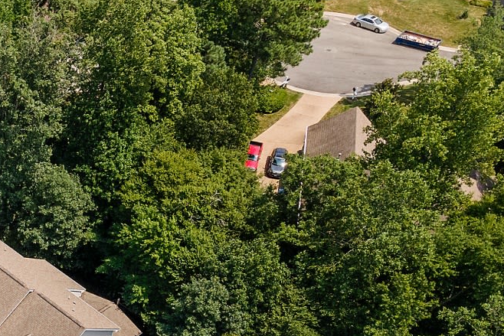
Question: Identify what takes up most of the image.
trees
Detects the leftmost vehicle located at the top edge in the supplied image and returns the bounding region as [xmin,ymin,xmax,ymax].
[352,16,388,32]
